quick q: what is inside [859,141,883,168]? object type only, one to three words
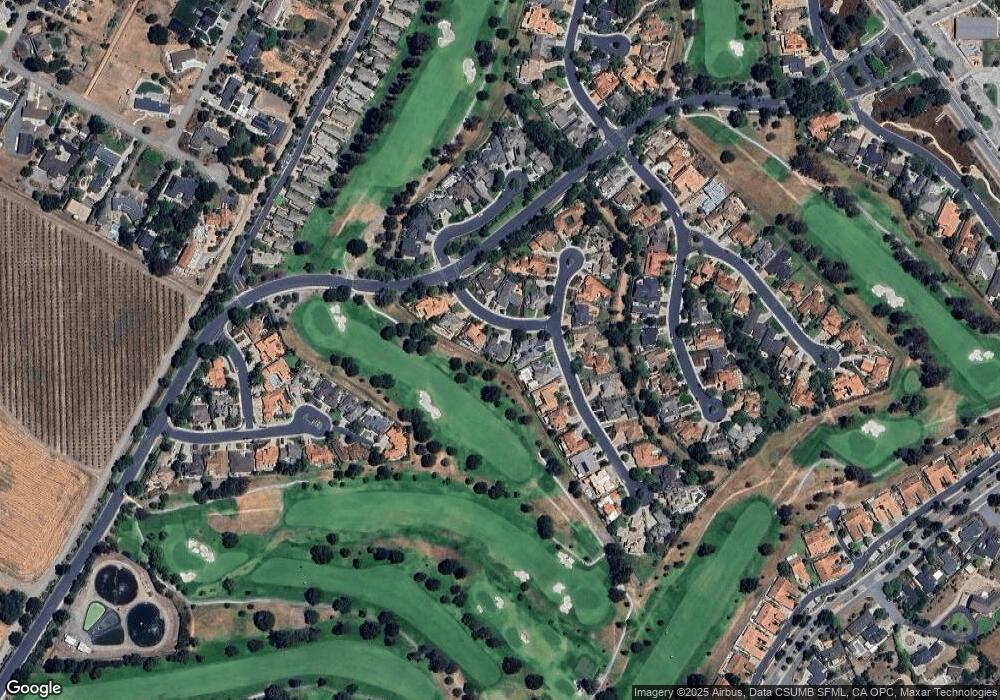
house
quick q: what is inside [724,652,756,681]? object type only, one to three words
house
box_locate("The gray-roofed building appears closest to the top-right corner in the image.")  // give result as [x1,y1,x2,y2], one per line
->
[957,16,999,39]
